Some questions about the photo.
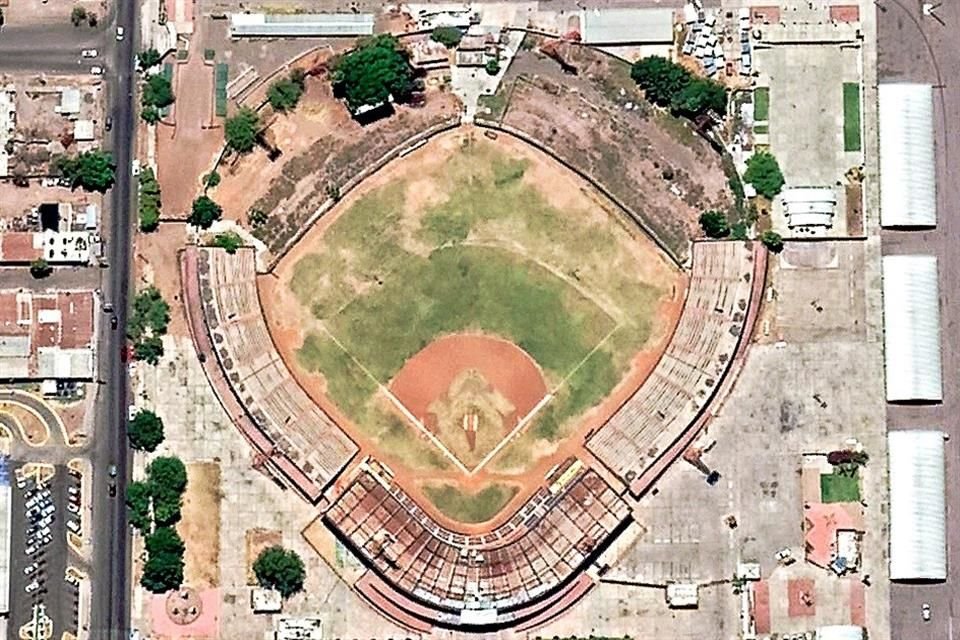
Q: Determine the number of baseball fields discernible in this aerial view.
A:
1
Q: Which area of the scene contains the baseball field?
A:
center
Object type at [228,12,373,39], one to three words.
shed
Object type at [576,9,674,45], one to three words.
shed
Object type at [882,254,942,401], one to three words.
building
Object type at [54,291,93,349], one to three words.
house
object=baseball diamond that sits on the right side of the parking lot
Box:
[259,123,688,535]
